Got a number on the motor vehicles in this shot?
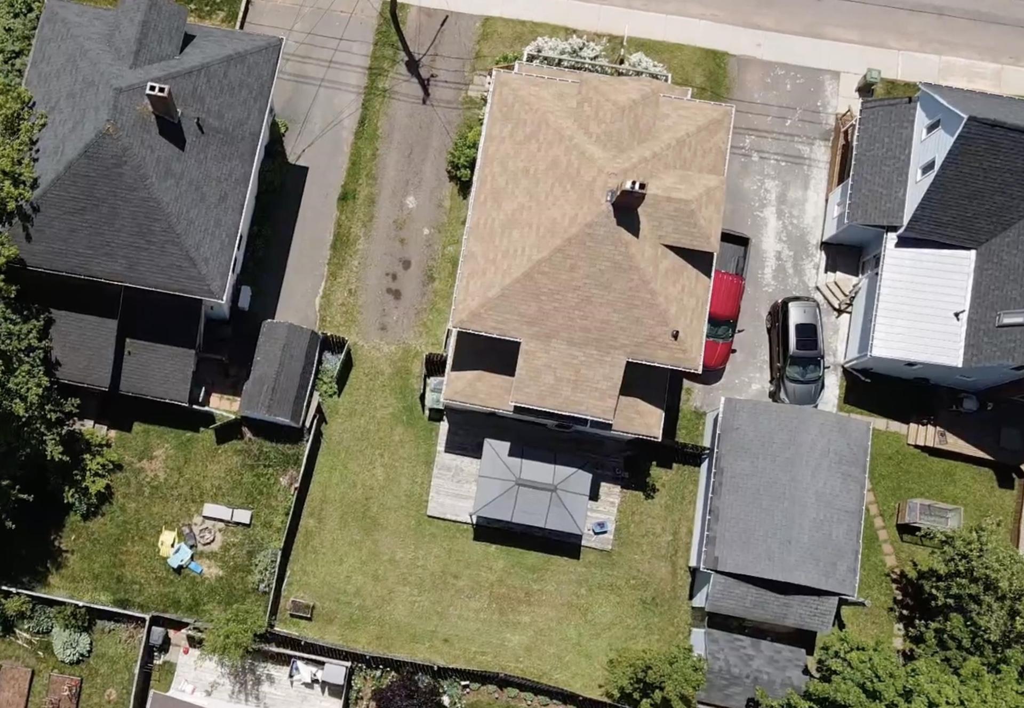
2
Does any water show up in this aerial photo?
No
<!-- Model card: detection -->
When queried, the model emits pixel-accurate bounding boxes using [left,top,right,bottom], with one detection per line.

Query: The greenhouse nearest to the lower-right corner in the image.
[892,499,968,542]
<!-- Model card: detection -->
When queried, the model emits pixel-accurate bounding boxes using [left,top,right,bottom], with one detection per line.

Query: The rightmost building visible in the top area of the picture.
[825,80,1024,386]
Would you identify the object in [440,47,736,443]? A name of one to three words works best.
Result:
house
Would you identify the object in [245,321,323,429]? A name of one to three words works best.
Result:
shed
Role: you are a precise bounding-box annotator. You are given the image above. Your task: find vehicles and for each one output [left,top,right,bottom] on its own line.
[769,298,829,407]
[683,230,752,384]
